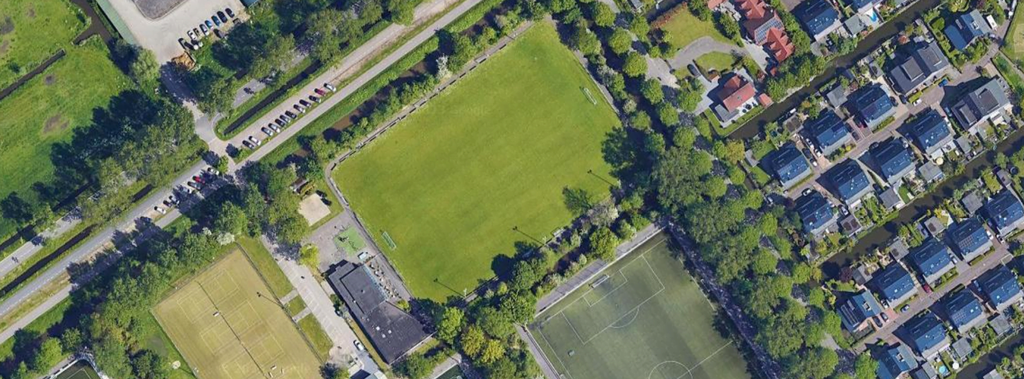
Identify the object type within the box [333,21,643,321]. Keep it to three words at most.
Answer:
sports field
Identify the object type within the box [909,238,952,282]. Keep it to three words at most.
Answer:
house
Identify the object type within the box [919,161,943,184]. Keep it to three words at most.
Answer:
shed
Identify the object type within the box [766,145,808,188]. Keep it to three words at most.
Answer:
house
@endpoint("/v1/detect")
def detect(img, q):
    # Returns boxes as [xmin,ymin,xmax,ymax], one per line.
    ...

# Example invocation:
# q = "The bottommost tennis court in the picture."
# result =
[151,246,332,379]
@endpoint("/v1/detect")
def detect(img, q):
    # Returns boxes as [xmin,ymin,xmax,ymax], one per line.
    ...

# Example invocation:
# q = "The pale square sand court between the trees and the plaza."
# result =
[300,193,331,223]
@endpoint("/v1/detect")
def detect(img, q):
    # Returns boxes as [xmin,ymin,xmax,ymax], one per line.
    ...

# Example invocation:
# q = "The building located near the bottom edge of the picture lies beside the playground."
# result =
[329,262,434,365]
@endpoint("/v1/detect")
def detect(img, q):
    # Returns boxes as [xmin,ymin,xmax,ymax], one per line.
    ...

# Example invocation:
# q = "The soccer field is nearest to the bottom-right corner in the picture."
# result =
[528,229,760,379]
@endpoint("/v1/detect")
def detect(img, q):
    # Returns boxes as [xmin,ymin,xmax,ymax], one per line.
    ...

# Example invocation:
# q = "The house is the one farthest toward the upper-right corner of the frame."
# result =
[944,10,991,51]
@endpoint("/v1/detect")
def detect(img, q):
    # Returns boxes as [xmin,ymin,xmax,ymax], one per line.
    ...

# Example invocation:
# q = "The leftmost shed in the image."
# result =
[98,0,140,46]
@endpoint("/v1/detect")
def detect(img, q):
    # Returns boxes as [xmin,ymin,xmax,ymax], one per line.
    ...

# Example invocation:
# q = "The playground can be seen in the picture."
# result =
[334,226,366,257]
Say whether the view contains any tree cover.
Yes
